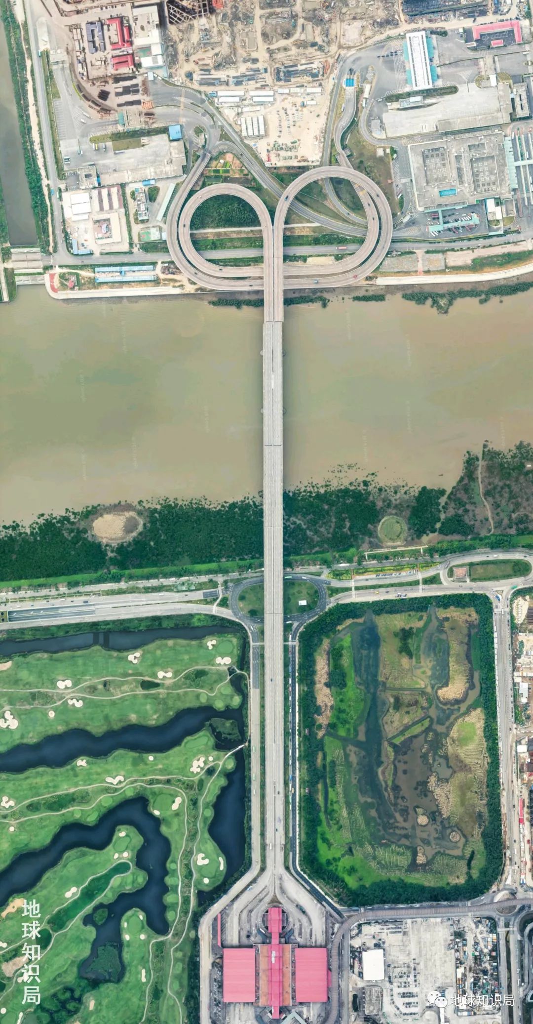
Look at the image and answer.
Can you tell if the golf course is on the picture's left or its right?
left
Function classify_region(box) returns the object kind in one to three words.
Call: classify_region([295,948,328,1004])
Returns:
building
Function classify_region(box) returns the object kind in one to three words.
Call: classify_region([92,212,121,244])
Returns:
building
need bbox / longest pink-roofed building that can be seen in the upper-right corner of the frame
[473,19,523,43]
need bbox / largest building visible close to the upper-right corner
[409,130,513,211]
